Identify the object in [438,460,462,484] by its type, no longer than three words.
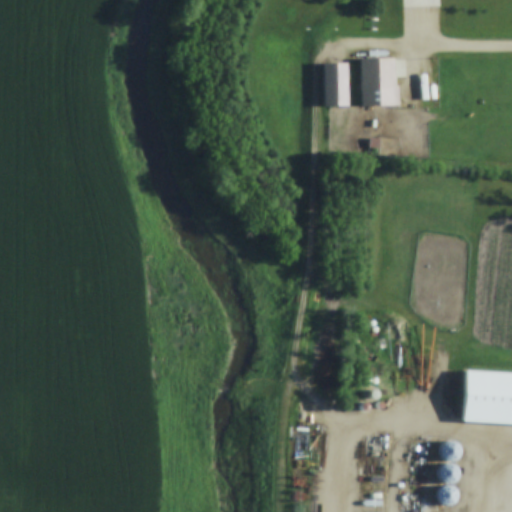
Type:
silo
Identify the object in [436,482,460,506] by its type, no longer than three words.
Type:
silo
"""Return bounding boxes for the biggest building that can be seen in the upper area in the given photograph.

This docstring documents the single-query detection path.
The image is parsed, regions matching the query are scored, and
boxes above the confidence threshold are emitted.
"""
[361,55,408,107]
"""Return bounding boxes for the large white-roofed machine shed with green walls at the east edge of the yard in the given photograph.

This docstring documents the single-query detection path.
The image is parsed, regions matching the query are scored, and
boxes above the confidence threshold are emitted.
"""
[462,368,512,426]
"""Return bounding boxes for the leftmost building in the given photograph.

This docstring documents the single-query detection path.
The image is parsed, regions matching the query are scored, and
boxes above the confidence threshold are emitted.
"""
[325,60,350,106]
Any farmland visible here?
Yes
